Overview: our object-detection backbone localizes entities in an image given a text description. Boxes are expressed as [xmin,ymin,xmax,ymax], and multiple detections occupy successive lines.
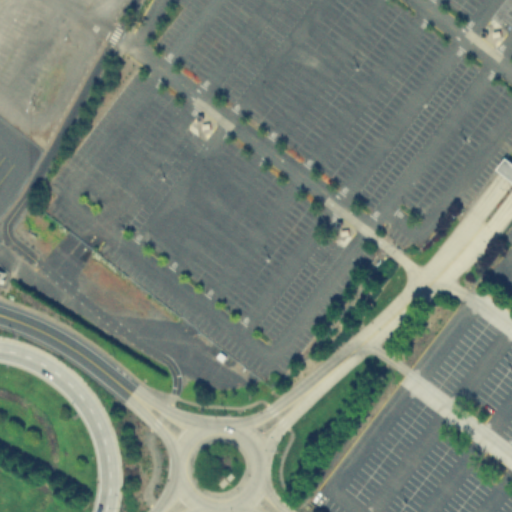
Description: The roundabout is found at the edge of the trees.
[150,407,294,512]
